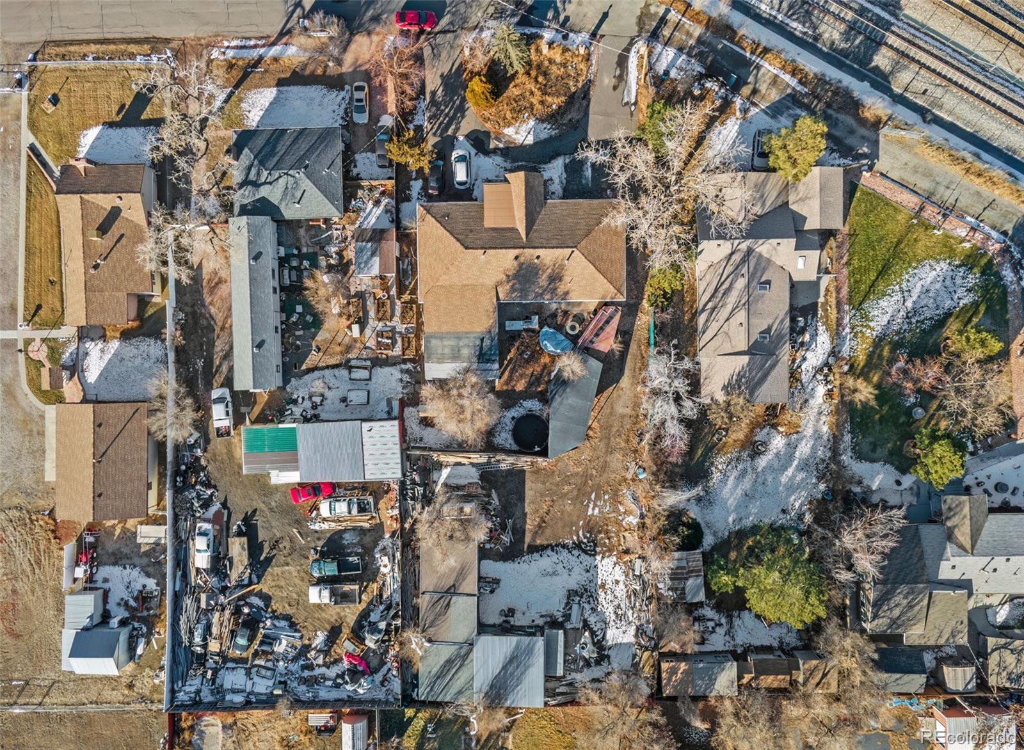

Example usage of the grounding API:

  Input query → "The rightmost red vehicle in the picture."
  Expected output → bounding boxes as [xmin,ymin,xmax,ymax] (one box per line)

[394,6,437,28]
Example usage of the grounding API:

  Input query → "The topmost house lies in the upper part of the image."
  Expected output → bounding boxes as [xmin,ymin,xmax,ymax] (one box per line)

[226,127,344,220]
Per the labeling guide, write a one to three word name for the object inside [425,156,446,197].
car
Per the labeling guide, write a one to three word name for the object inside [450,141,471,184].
car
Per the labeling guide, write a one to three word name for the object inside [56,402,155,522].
building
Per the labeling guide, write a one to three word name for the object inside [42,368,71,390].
shed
